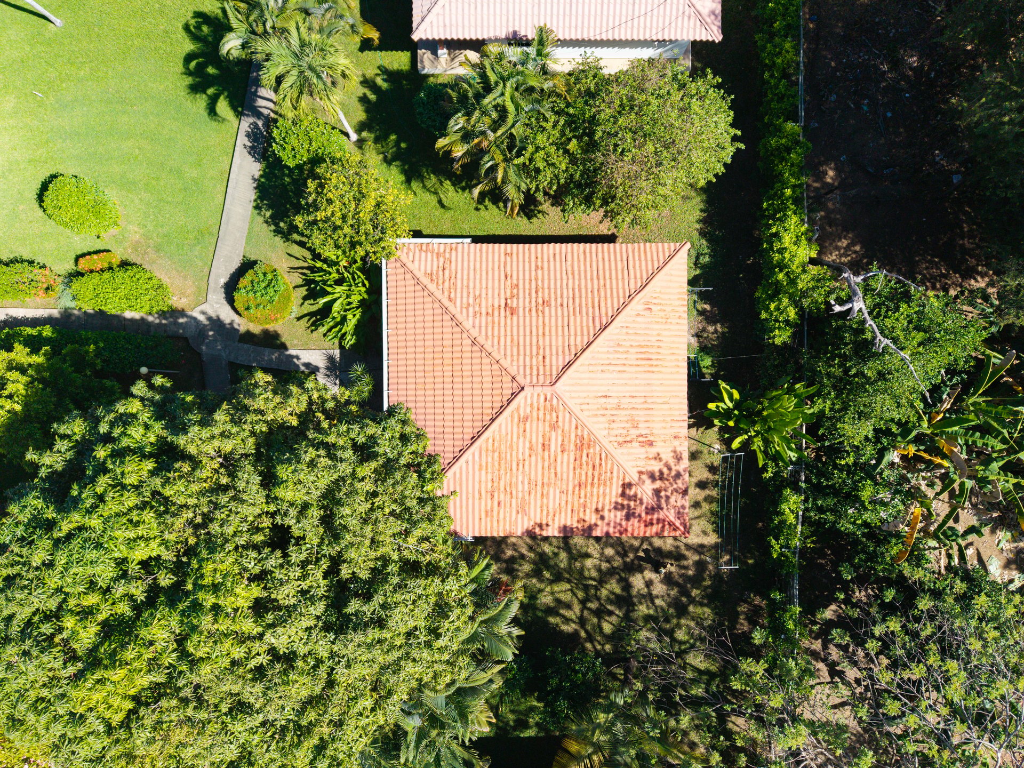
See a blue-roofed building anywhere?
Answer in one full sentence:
No, there's no blue-roofed building here.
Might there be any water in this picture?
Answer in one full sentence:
No, no water is visible.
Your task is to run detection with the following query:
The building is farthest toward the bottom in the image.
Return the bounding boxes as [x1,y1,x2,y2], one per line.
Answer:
[382,237,694,541]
